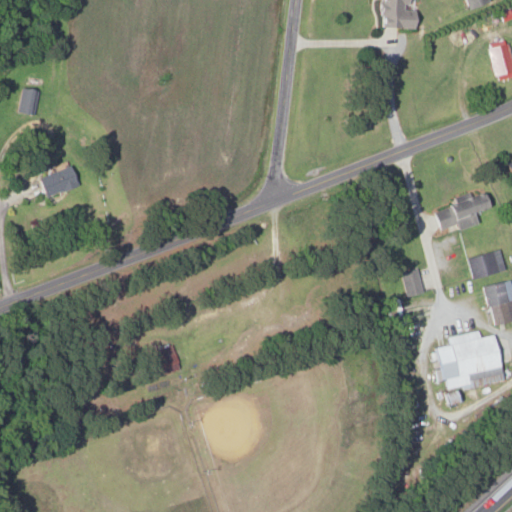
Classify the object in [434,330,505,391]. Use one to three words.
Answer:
building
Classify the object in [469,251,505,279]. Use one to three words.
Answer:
building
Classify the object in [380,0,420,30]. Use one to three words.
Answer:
house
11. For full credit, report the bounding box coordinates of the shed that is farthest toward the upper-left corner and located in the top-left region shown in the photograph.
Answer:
[17,86,39,115]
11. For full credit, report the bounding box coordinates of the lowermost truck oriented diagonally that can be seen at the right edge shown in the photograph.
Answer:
[482,480,512,508]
